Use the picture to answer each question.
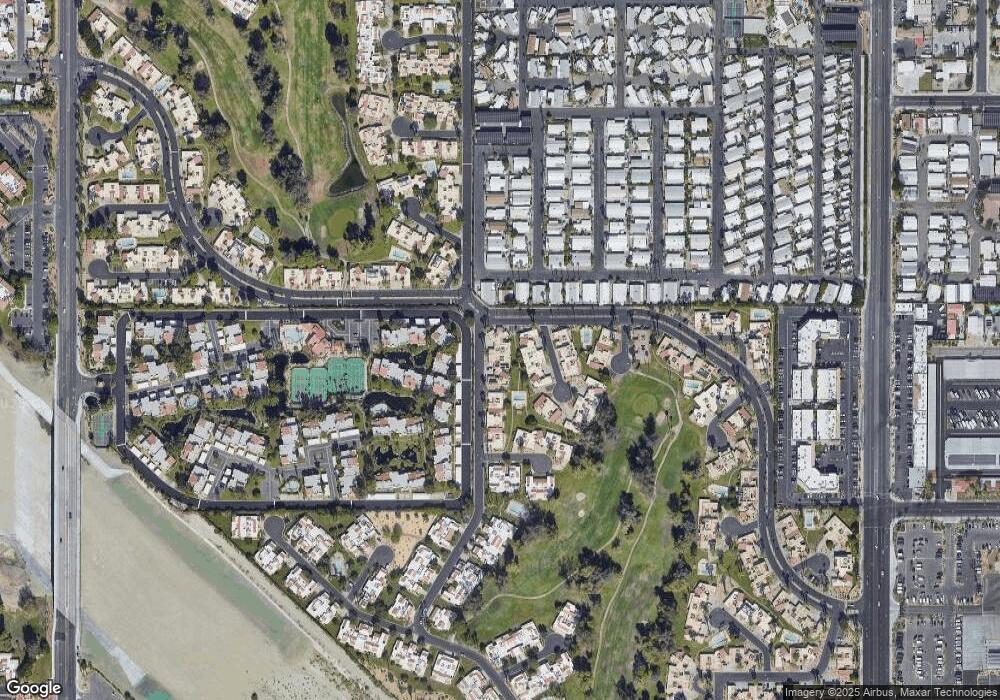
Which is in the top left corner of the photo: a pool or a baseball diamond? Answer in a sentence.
You can see a pool in the top left corner of the photo.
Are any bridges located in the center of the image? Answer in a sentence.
No, the scene shows no bridge in the center of the image.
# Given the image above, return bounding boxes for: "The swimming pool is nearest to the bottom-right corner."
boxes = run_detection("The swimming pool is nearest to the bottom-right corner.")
[781,633,801,645]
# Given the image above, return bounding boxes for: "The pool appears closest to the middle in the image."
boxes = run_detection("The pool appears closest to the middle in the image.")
[512,390,526,406]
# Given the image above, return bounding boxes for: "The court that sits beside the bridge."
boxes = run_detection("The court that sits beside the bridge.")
[94,410,109,444]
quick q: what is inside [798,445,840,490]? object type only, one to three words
building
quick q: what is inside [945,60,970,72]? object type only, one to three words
house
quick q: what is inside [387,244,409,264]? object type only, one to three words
swimming pool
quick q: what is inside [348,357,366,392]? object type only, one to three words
tennis court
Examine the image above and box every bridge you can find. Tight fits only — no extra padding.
[54,404,80,636]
